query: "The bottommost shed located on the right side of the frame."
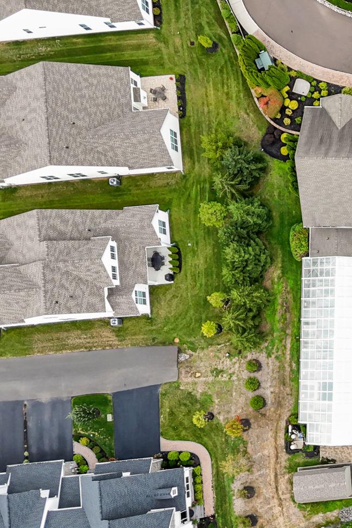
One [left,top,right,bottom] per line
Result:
[294,462,352,503]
